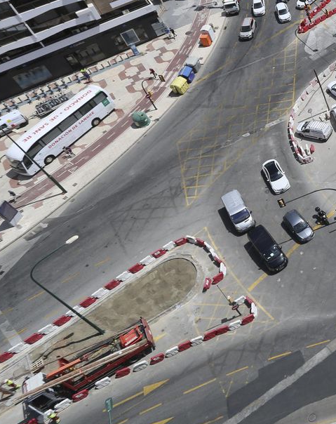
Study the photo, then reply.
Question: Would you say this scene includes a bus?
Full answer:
Yes, there is a bus in the image.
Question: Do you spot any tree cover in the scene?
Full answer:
No, there's no tree cover in this view.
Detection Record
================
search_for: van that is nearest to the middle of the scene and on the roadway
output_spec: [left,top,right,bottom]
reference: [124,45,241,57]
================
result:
[222,191,256,234]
